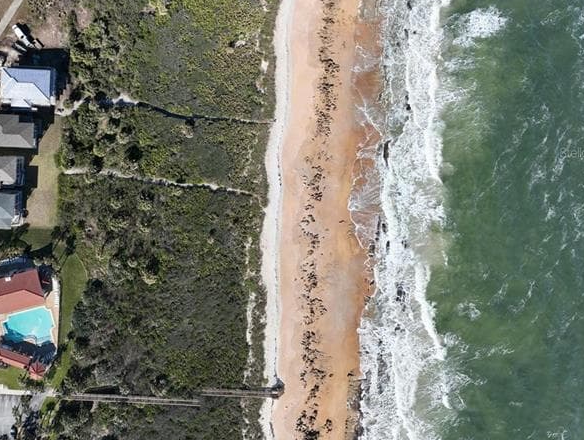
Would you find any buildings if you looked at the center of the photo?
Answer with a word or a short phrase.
No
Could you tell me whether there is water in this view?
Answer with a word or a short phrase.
Yes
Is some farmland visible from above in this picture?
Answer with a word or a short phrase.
No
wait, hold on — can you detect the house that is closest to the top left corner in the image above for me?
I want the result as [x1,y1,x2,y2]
[1,68,56,107]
